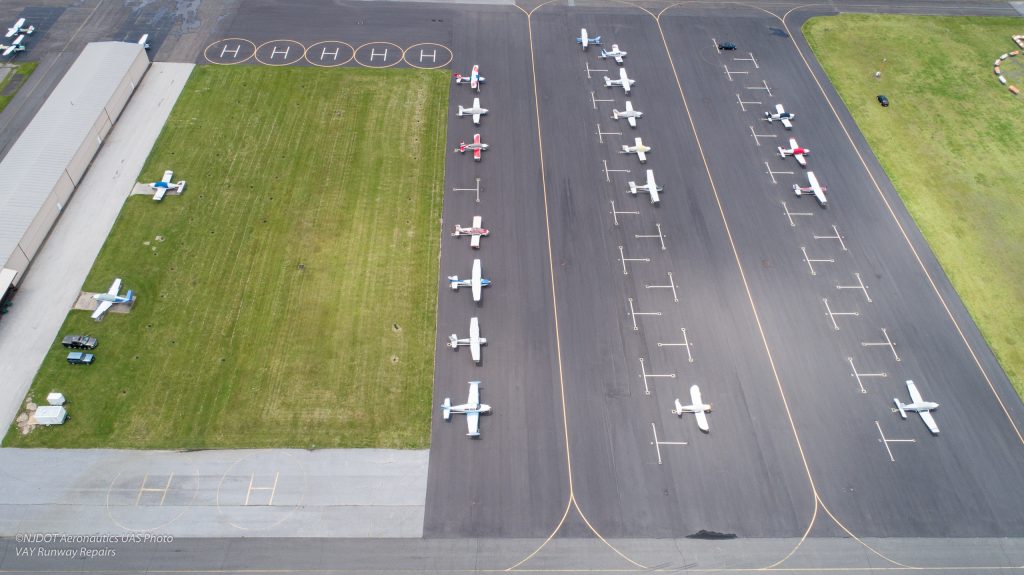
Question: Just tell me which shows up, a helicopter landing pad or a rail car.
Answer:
helicopter landing pad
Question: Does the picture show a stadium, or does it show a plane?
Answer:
plane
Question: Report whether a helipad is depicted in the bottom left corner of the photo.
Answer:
Yes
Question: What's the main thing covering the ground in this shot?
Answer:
paved ground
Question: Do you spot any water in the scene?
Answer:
No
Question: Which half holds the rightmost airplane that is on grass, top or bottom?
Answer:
top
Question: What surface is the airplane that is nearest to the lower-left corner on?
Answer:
grass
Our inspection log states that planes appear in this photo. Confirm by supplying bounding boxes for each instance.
[675,386,713,430]
[631,170,664,200]
[459,134,488,159]
[576,28,602,46]
[455,216,489,246]
[455,65,486,87]
[452,259,491,299]
[451,317,488,359]
[602,45,627,62]
[778,139,810,164]
[0,36,25,55]
[458,99,488,123]
[607,68,635,90]
[624,137,651,160]
[766,105,795,128]
[149,171,186,199]
[893,381,941,432]
[443,382,491,434]
[93,279,134,317]
[613,102,642,125]
[794,171,827,201]
[7,18,35,36]
[134,32,150,49]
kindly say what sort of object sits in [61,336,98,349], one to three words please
vehicle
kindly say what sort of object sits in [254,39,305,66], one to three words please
helipad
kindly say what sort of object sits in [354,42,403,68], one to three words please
helipad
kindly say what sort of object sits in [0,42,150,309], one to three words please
hangar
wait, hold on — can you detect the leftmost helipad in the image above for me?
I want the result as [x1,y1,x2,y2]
[107,449,199,530]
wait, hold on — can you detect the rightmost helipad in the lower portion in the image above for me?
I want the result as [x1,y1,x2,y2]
[217,449,305,530]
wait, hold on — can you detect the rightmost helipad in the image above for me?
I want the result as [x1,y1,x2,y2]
[403,43,452,69]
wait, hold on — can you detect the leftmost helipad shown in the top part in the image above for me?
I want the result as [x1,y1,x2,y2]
[204,38,255,64]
